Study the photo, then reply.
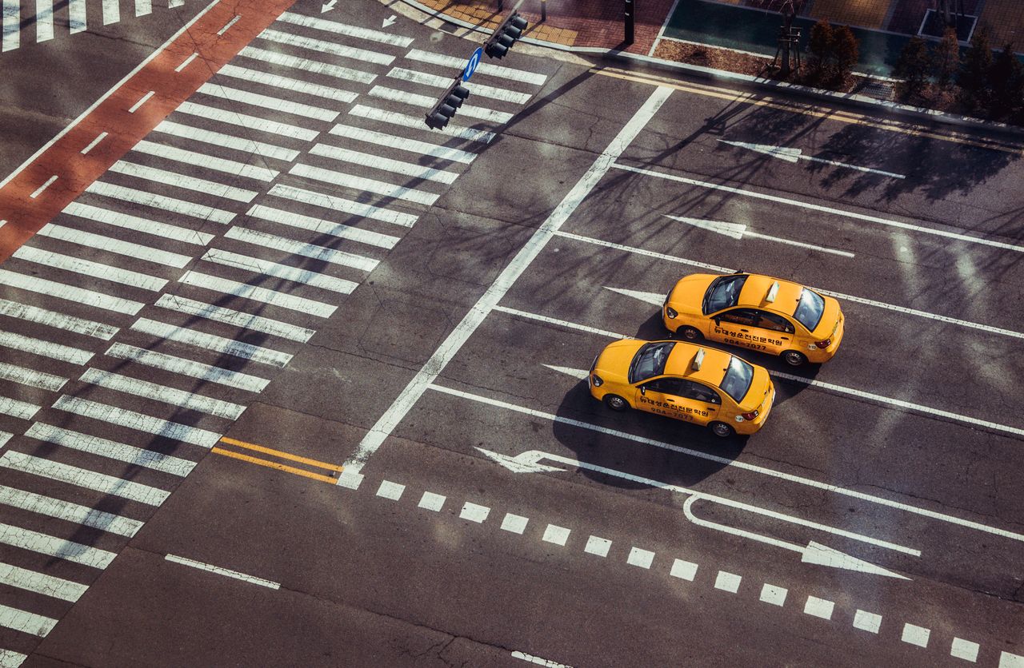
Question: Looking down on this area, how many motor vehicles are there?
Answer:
two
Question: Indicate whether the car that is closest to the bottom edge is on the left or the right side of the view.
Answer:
right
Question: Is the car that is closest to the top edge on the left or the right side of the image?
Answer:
right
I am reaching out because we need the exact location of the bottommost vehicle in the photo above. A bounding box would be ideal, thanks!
[587,331,776,437]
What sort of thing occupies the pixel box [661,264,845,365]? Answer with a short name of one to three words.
car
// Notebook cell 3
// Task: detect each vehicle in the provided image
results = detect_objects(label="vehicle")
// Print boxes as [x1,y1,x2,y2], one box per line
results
[661,264,845,365]
[587,331,776,437]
